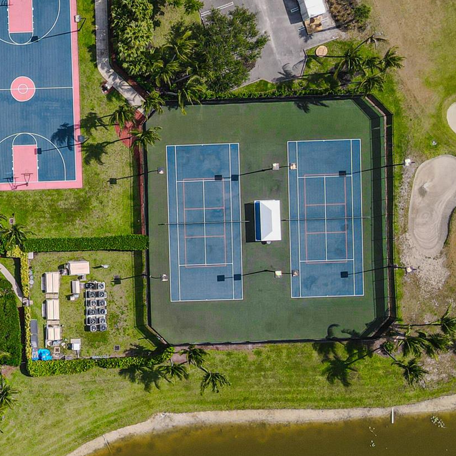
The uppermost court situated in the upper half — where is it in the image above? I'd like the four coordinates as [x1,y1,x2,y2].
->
[0,0,77,184]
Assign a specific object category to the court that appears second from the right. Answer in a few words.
tennis court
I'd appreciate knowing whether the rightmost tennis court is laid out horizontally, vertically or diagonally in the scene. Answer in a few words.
vertically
